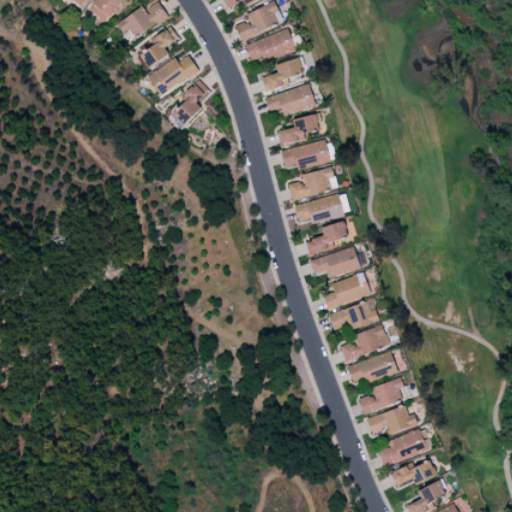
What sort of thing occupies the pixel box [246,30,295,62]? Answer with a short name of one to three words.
house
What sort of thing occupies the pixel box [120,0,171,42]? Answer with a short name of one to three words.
house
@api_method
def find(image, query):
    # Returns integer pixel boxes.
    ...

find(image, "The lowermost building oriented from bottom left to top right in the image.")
[406,478,448,512]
